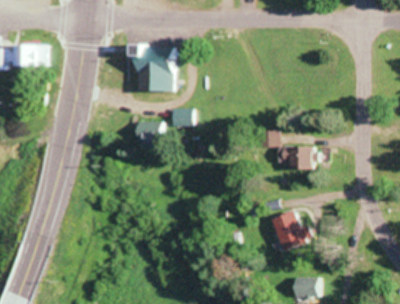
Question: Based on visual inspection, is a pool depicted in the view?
No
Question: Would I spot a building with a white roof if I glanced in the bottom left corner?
No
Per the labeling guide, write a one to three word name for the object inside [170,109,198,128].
building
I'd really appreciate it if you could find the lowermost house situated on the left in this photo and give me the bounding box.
[135,122,166,140]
